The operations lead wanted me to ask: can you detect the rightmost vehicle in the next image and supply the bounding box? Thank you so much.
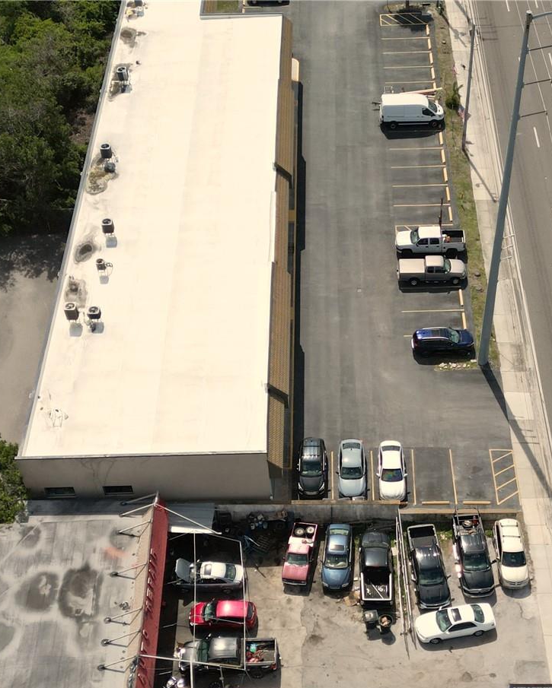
[493,520,533,588]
